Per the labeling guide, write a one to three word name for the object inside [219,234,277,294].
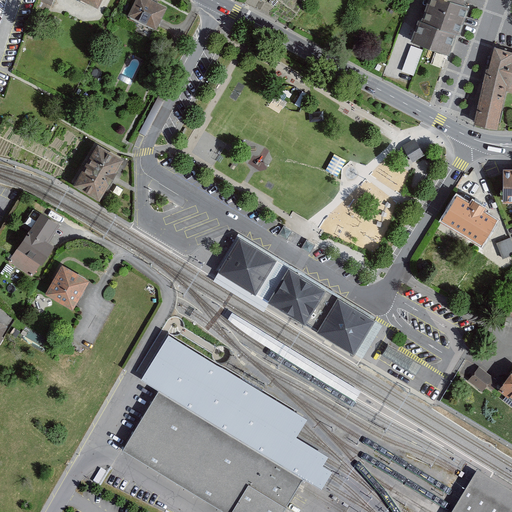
building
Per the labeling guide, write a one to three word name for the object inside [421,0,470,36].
house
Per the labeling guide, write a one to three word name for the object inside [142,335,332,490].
warehouse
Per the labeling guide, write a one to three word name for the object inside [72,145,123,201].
house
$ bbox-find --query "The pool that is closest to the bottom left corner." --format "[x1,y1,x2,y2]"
[21,330,45,352]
